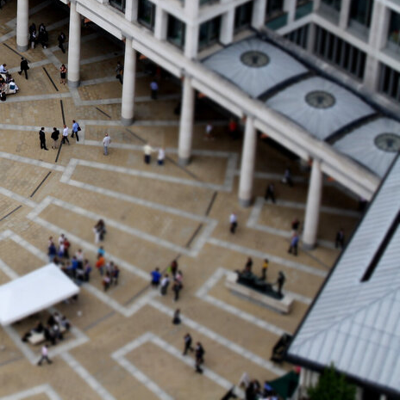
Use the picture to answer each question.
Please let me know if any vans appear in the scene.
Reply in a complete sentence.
No, I can see no van in this picture.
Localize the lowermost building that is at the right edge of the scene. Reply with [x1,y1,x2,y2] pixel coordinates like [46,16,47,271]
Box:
[285,157,400,400]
